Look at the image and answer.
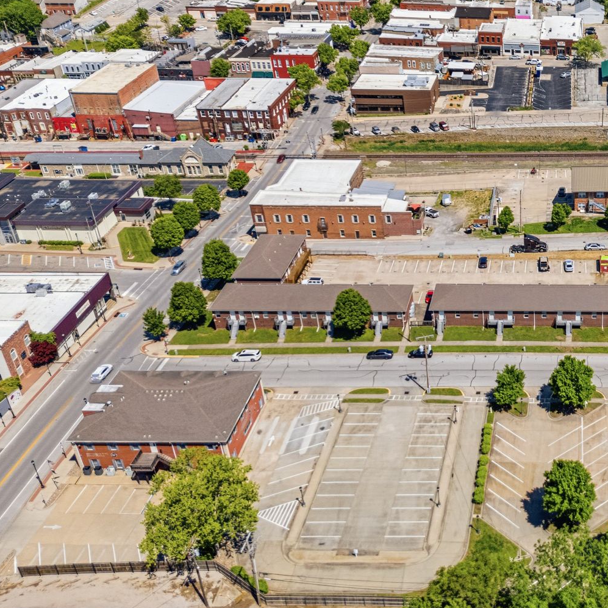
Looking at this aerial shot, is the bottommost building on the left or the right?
left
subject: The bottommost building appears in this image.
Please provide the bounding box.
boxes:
[69,371,264,481]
